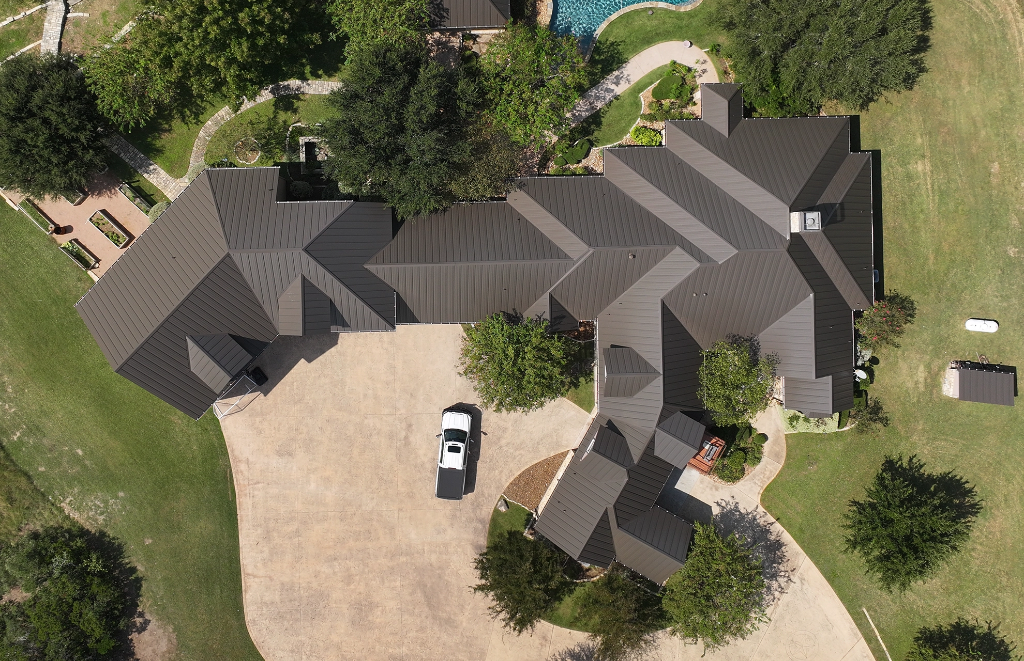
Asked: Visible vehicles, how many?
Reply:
1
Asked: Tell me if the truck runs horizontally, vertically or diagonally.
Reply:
vertically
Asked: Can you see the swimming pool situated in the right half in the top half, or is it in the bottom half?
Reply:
top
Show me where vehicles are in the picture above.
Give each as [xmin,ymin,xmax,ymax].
[432,406,475,504]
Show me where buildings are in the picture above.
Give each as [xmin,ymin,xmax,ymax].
[73,81,875,587]
[414,0,512,37]
[943,366,1014,406]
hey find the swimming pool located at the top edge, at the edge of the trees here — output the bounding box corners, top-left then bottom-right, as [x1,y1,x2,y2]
[545,0,702,65]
